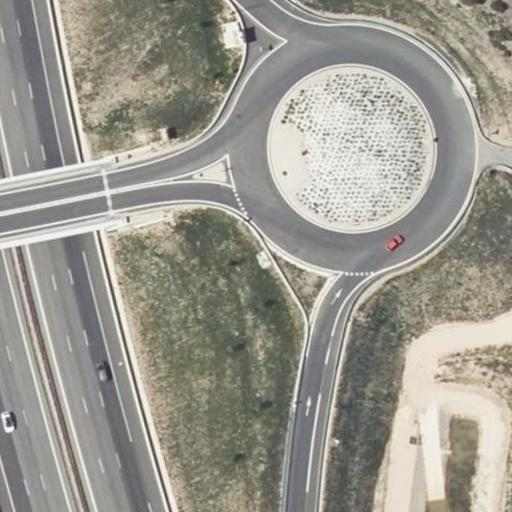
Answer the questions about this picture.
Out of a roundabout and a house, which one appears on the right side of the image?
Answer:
roundabout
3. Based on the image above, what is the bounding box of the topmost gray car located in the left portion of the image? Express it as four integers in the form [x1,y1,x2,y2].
[97,361,110,383]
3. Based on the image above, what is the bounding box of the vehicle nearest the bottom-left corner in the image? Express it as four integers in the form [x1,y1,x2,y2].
[2,410,14,434]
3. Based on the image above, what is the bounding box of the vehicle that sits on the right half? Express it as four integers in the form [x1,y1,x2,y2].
[386,234,405,250]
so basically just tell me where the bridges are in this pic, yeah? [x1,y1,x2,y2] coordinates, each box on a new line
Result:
[0,157,129,248]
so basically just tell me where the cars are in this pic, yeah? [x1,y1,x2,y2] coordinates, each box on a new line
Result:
[386,234,405,250]
[97,361,110,383]
[2,410,14,434]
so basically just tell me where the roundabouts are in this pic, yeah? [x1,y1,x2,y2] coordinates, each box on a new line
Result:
[228,24,482,275]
